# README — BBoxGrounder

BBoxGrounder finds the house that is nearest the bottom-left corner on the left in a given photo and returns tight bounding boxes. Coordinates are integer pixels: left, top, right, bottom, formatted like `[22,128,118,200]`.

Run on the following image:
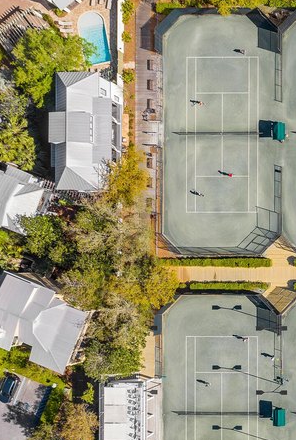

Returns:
[0,274,98,374]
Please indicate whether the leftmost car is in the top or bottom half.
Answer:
bottom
